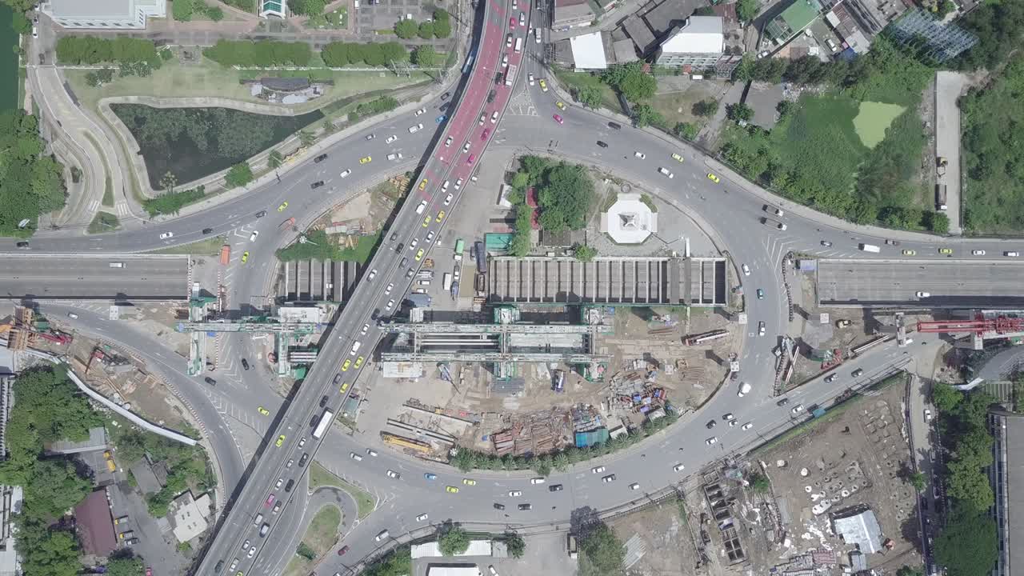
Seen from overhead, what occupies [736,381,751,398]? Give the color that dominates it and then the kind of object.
white vehicle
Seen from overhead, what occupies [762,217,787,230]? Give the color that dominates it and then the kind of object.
gray vehicle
